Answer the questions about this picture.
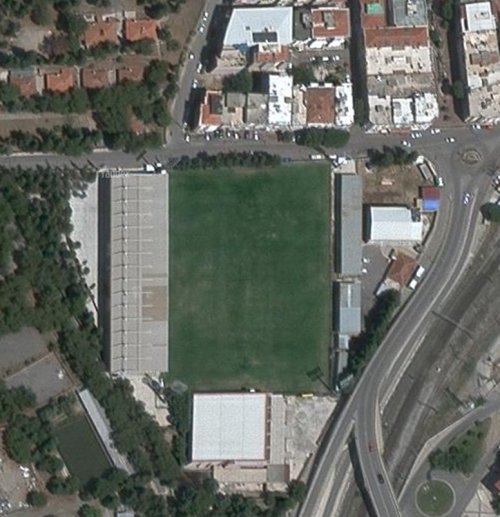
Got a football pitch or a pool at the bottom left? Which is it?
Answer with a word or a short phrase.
football pitch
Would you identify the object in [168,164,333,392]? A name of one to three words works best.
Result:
soccer field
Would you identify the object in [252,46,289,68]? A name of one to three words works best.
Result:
building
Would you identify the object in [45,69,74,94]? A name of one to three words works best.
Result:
house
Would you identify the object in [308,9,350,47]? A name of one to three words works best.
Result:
building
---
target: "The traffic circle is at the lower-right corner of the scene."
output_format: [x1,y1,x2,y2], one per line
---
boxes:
[414,477,454,517]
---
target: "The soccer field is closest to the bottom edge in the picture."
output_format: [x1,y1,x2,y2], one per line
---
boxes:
[54,412,114,484]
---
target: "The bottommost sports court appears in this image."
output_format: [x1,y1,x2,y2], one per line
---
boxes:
[5,353,75,403]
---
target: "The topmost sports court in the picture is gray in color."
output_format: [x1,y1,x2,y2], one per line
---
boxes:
[0,329,49,372]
